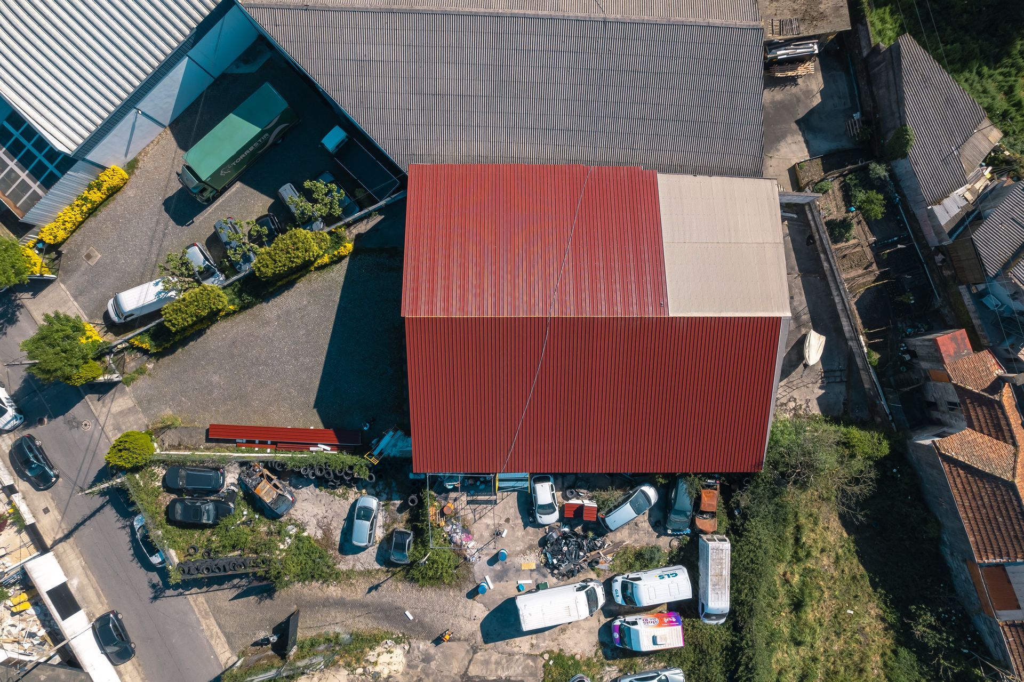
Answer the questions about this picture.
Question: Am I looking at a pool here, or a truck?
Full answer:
I can see a truck in this picture.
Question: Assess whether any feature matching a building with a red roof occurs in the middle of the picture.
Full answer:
Yes, a building with a red roof is visible in the middle of the picture.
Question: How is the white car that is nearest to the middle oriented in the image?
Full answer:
The white car that is nearest to the middle is oriented from top to bottom.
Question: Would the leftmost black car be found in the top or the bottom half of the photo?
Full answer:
The leftmost black car is in the bottom half of the image.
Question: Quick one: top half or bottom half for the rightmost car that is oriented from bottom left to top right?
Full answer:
It is in the bottom half that the rightmost car that is oriented from bottom left to top right appears.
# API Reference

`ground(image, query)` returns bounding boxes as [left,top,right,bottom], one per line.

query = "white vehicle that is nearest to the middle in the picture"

[531,473,560,527]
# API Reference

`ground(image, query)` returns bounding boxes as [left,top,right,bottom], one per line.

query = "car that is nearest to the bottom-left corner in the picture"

[92,610,135,664]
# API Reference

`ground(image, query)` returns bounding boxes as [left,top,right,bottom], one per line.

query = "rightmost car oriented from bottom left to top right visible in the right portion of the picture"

[599,482,658,533]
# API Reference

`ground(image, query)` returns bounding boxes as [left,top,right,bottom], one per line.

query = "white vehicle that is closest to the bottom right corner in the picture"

[696,537,731,625]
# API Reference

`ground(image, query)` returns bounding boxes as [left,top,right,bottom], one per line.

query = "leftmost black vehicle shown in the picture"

[10,432,59,491]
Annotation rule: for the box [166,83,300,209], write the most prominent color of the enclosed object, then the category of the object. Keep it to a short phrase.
green truck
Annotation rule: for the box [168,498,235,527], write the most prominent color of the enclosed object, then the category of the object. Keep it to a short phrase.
black car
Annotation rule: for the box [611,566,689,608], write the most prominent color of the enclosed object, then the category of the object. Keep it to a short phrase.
white van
